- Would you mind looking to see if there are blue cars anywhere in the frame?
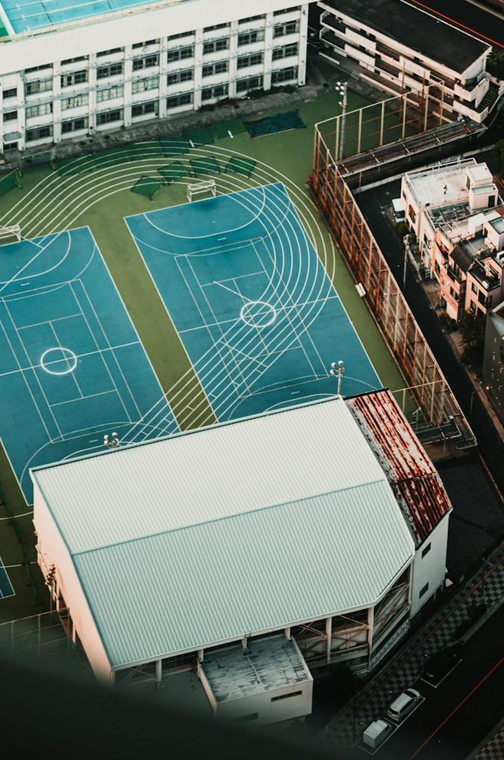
No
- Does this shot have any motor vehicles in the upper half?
Yes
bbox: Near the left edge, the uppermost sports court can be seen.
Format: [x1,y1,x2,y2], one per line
[0,226,179,505]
